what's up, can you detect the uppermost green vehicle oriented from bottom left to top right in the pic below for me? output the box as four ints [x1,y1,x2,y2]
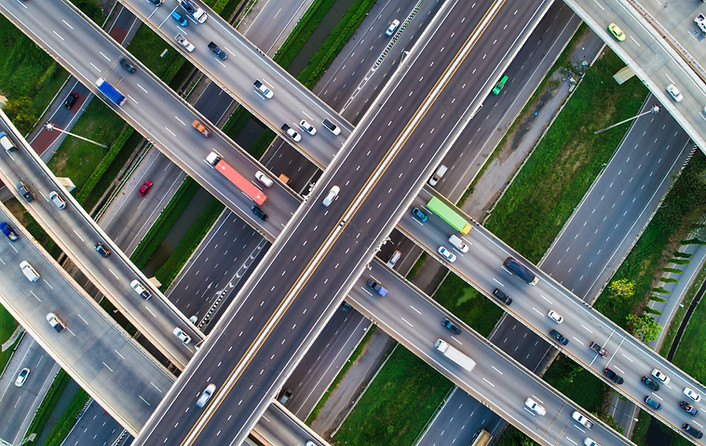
[492,74,510,94]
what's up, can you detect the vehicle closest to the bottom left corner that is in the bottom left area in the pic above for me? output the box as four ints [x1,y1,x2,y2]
[17,369,30,385]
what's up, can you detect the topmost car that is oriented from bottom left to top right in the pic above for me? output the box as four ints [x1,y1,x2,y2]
[384,19,401,38]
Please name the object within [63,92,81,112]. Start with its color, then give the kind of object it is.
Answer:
black car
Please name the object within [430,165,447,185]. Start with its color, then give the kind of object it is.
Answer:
white vehicle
